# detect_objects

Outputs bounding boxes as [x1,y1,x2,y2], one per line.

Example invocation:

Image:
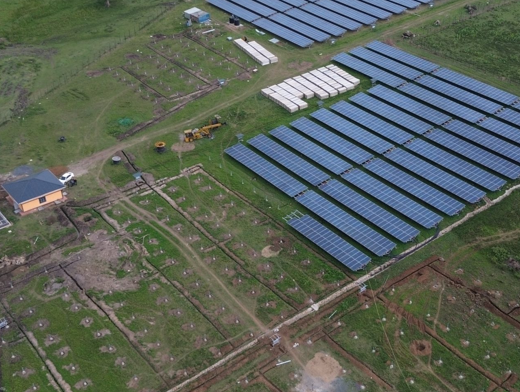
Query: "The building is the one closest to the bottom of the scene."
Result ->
[1,170,67,216]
